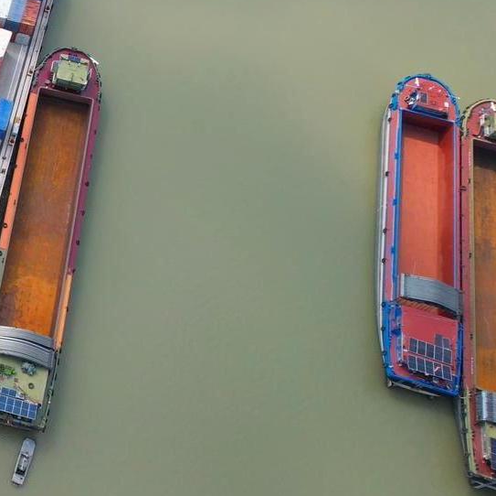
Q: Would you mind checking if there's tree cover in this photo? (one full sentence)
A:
No, there is no tree cover in the image.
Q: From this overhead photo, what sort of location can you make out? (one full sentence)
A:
This looks like a port.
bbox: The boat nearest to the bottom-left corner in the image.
[12,437,36,487]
